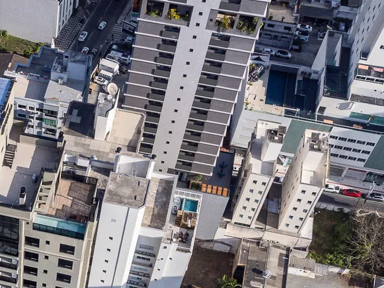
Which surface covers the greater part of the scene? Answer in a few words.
buildings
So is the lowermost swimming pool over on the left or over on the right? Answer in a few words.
left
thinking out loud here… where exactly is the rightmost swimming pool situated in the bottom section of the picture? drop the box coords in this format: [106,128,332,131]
[184,192,202,211]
